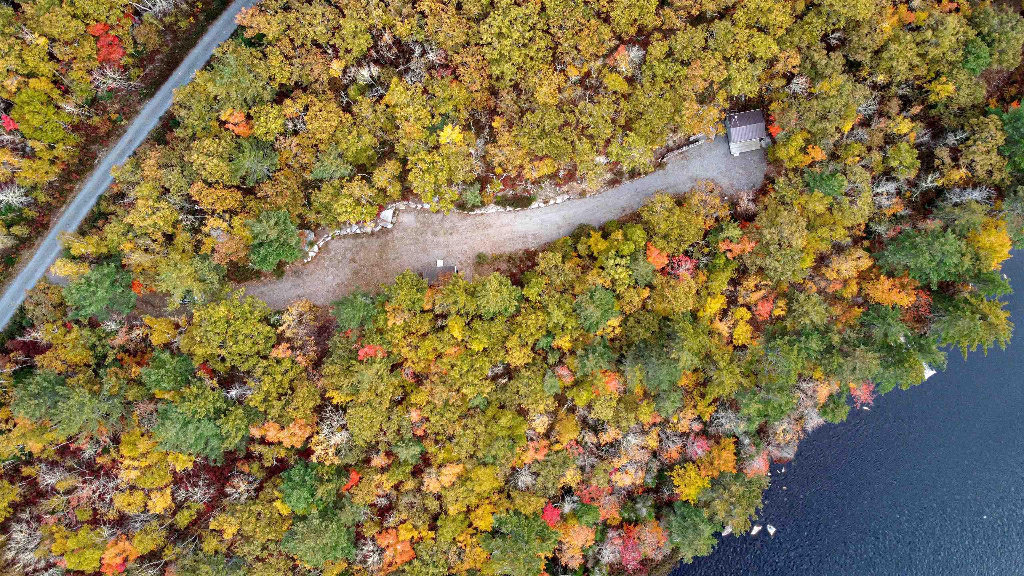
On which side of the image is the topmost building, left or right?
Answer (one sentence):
The topmost building sits on the right side.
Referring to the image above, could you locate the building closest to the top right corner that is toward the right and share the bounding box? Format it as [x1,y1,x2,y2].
[722,109,767,161]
